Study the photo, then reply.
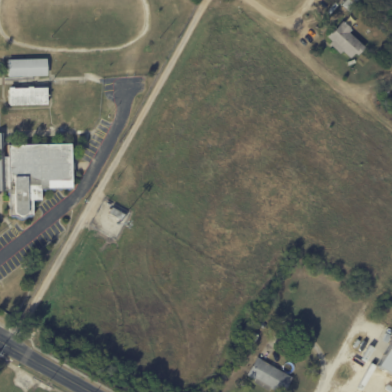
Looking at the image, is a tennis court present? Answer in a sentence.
No, this view has no tennis court in it.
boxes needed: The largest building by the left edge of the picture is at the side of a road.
[4,144,74,219]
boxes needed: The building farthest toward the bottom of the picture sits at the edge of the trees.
[248,356,292,392]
